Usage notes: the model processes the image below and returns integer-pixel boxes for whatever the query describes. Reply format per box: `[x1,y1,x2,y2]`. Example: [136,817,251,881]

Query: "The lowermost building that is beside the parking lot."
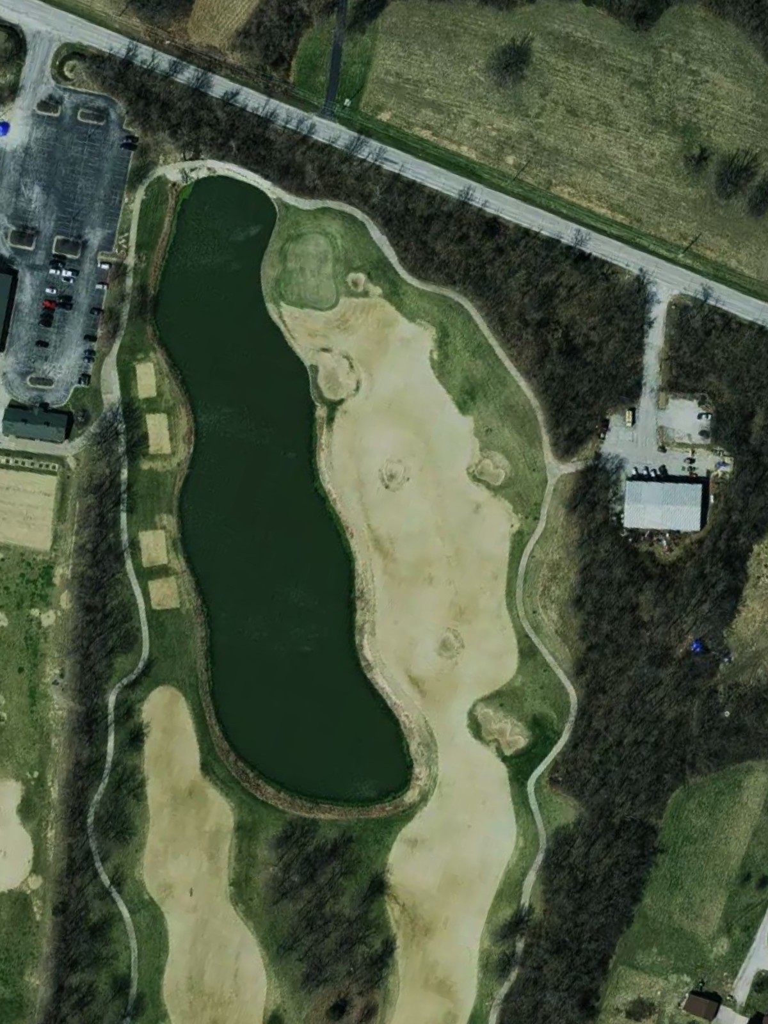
[1,404,68,443]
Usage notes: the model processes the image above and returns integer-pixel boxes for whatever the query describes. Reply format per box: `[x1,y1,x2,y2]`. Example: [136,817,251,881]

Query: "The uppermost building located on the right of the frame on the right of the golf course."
[624,481,703,532]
